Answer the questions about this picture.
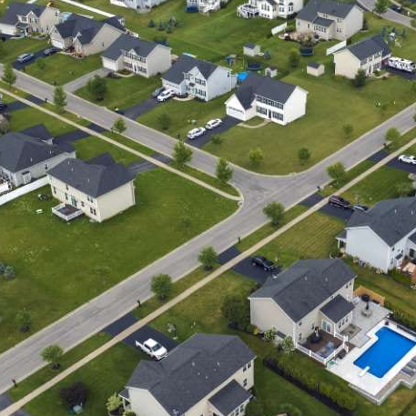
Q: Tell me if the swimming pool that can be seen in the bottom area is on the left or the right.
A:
right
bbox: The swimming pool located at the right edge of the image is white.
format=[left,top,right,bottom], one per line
[325,318,416,394]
